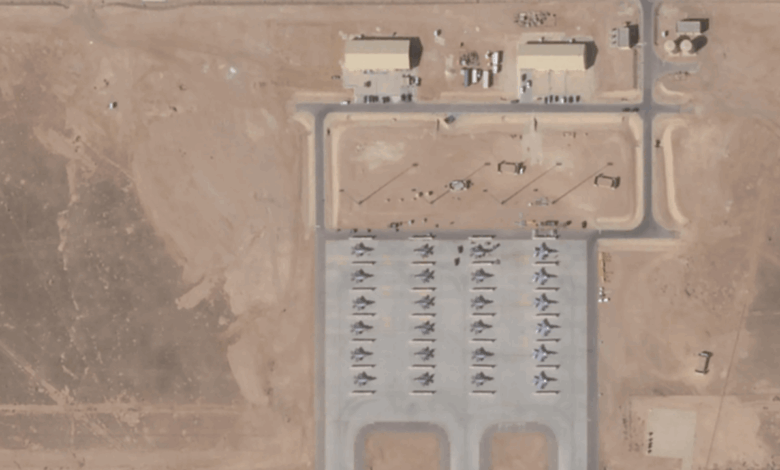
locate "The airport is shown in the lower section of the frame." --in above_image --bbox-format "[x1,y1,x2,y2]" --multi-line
[324,239,588,470]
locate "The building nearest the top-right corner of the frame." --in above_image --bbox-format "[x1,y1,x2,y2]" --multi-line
[676,20,701,34]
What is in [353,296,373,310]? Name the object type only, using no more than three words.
airplane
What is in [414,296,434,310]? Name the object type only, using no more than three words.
airplane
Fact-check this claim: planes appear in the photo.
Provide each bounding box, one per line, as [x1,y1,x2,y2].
[532,295,555,311]
[354,373,374,387]
[415,245,433,258]
[415,270,434,283]
[414,296,434,310]
[532,372,555,388]
[472,347,491,361]
[414,373,434,387]
[472,245,492,258]
[353,296,373,310]
[352,322,372,335]
[472,374,491,387]
[532,347,555,363]
[353,245,373,258]
[472,296,491,309]
[352,347,371,361]
[415,347,434,361]
[532,268,555,284]
[415,321,434,335]
[472,270,491,283]
[532,243,556,259]
[353,270,372,283]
